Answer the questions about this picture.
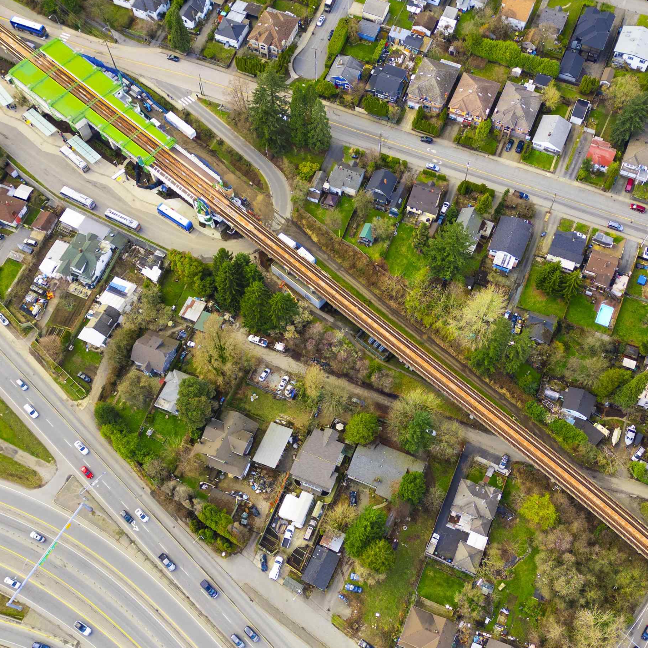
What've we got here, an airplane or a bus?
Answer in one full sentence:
There is a bus in the scene.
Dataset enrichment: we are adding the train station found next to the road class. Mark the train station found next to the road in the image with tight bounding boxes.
[6,37,241,226]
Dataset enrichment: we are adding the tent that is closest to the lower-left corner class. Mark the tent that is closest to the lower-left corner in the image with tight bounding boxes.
[280,492,314,528]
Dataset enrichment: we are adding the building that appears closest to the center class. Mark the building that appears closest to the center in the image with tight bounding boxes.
[267,262,328,313]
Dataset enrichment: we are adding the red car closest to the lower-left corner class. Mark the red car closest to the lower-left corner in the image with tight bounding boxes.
[78,464,95,481]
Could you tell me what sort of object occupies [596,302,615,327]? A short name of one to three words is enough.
swimming pool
